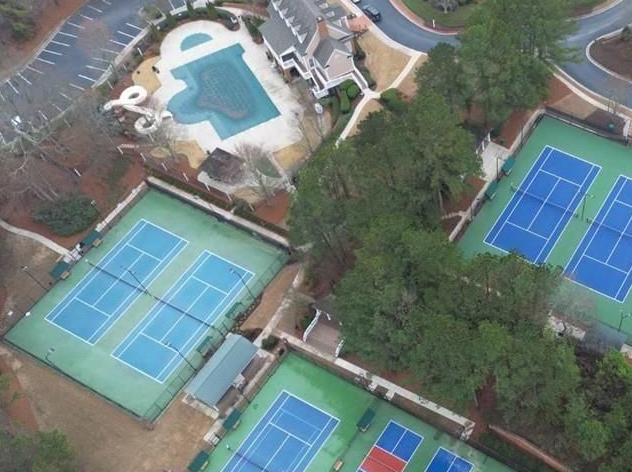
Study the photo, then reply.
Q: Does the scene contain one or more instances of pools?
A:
Yes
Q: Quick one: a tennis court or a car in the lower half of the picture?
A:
tennis court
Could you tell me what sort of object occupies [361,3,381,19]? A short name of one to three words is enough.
car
